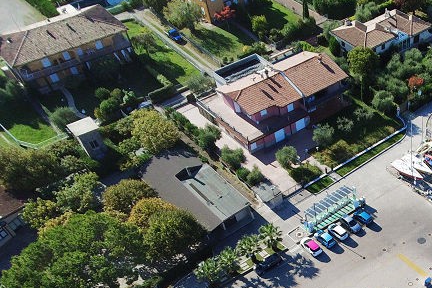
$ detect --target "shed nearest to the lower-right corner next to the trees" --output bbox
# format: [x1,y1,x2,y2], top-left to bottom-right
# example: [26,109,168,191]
[251,181,285,215]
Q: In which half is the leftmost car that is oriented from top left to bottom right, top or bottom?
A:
top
